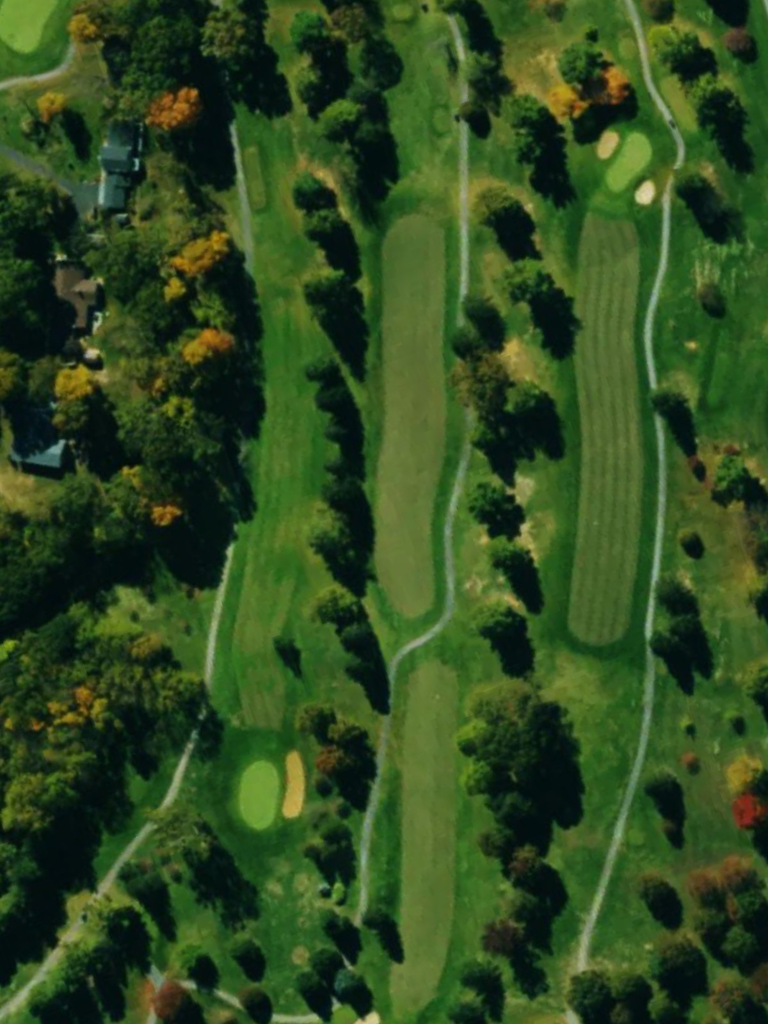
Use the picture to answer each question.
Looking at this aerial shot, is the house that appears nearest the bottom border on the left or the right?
left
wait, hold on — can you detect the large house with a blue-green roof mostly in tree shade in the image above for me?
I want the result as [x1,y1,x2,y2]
[11,406,69,471]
